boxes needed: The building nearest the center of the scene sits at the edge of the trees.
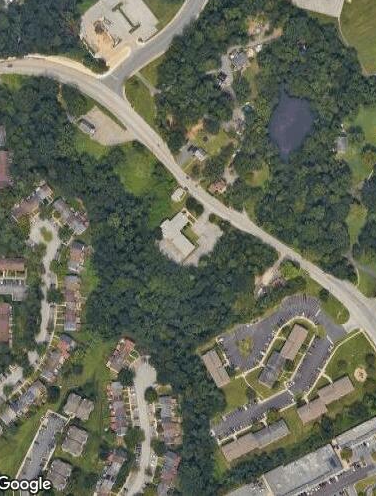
[160,212,194,255]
